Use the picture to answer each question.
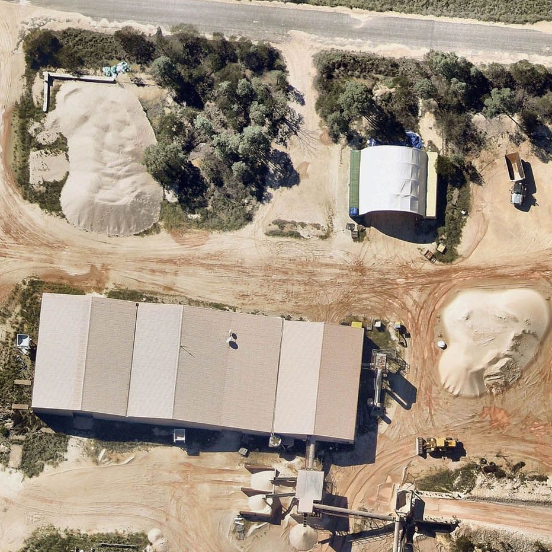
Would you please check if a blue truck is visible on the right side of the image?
No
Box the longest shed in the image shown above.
[31,292,368,446]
